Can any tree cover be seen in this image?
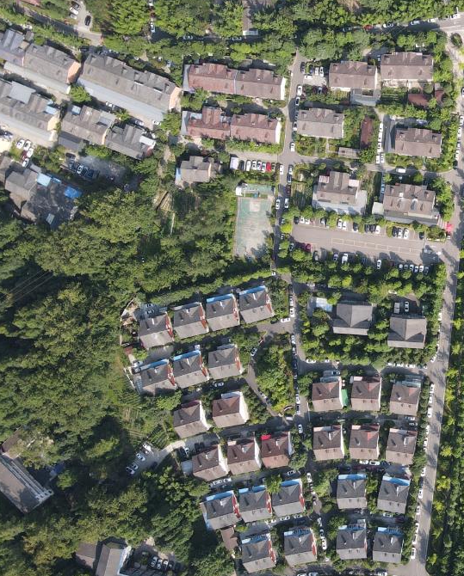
Yes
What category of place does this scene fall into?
residential area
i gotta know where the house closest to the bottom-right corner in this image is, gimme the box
[372,522,404,563]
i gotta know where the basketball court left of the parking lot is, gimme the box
[235,196,271,257]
